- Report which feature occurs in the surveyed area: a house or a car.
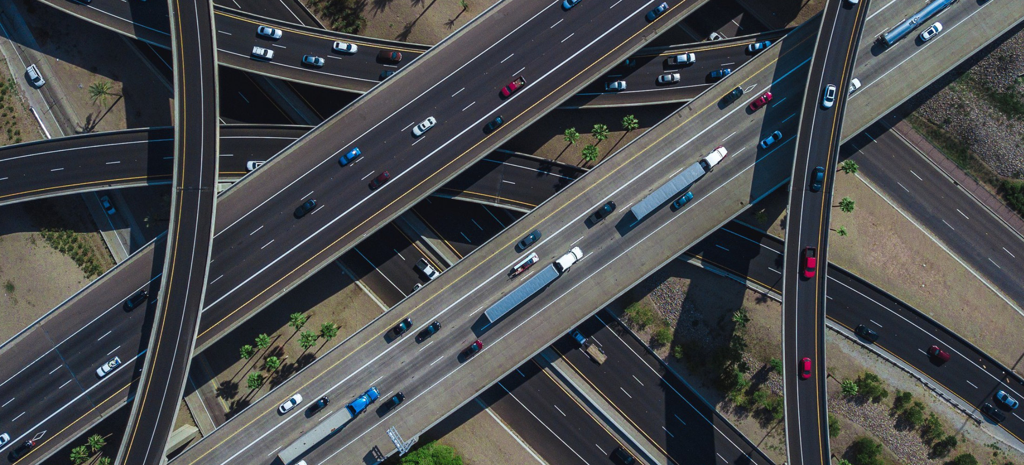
car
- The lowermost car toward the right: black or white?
black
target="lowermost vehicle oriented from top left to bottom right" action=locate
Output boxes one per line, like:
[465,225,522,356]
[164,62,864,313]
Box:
[611,445,634,465]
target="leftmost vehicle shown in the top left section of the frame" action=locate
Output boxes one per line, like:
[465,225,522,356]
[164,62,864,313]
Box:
[26,64,45,87]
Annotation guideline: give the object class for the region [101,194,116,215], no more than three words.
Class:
car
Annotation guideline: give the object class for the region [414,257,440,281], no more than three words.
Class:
truck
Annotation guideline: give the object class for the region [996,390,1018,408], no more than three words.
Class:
car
